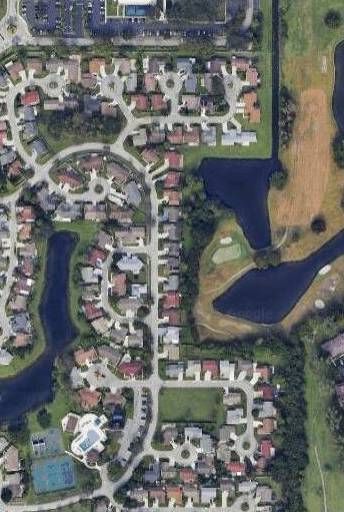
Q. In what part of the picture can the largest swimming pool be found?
bottom left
